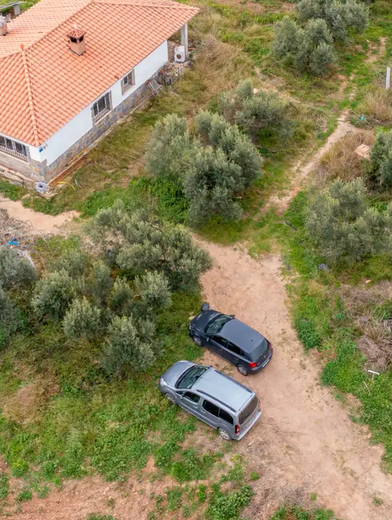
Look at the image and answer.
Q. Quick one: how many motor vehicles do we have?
2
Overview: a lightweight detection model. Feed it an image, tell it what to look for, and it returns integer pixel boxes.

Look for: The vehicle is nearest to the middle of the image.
[189,309,275,377]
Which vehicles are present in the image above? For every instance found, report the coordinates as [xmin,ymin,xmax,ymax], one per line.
[189,309,275,377]
[158,357,263,442]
